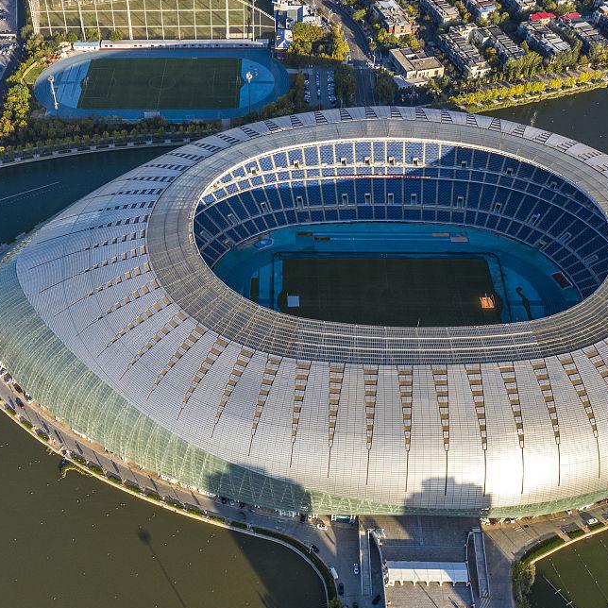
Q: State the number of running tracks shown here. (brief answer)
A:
2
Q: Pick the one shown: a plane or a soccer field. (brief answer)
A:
soccer field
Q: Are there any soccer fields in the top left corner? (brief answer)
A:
Yes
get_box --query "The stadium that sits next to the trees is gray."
[0,107,608,525]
